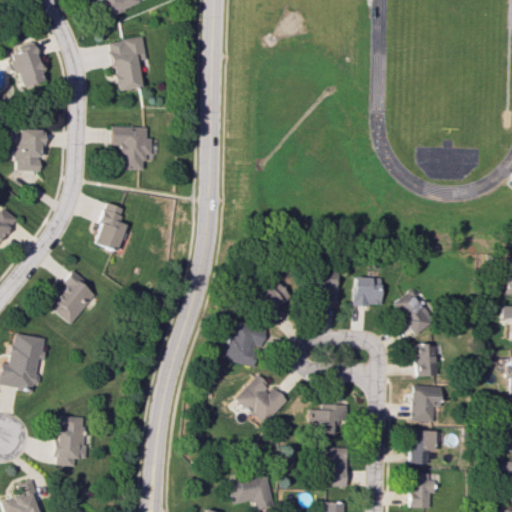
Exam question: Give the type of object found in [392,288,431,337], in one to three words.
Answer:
house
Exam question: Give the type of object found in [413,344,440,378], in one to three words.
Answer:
house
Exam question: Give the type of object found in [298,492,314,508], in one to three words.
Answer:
swimming pool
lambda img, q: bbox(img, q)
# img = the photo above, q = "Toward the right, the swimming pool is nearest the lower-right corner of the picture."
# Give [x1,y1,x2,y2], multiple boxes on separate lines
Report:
[444,432,459,448]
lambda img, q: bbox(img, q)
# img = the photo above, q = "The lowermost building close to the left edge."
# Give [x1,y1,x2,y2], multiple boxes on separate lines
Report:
[2,478,44,512]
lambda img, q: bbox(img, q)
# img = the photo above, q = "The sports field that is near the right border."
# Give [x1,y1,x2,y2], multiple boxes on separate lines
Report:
[386,0,512,186]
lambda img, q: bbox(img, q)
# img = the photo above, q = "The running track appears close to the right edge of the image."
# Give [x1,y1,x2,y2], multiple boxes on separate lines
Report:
[370,0,512,202]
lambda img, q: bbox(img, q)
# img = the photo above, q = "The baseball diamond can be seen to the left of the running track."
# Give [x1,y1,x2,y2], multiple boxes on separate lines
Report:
[262,4,309,48]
